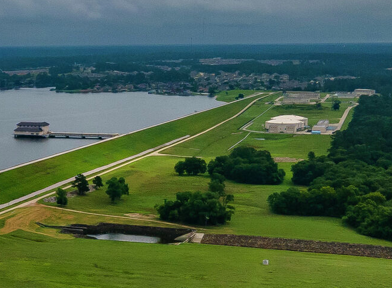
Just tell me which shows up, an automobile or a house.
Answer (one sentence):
Looking from above, you can make out a house.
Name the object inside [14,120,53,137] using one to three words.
house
